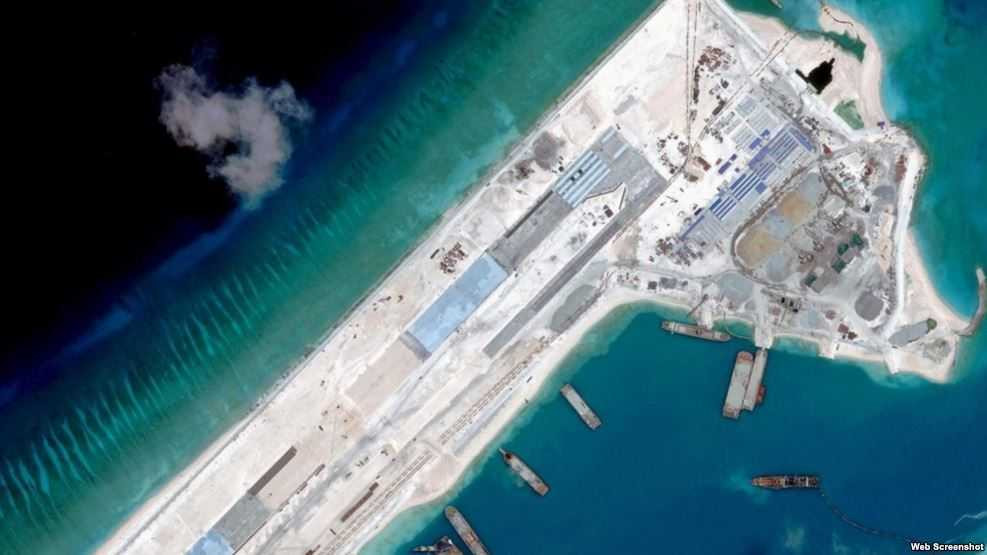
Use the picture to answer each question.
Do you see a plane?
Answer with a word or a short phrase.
No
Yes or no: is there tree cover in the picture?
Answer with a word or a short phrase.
No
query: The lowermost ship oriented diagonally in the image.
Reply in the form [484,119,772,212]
[447,507,488,555]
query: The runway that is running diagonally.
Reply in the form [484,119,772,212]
[183,149,617,555]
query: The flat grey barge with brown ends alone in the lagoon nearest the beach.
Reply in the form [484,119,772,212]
[560,384,601,429]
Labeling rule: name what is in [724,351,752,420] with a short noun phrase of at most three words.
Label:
ship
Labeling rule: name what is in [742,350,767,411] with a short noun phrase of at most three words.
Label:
ship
